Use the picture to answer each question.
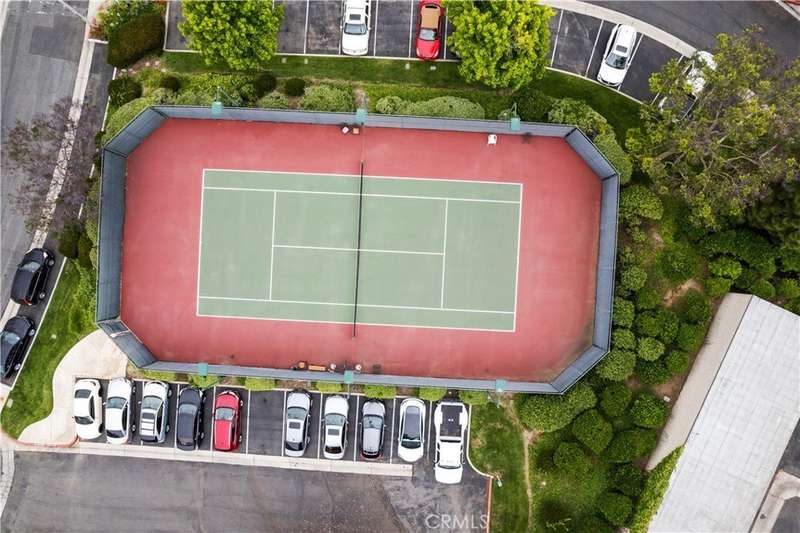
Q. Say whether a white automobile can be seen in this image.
Yes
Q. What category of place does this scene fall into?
sports ground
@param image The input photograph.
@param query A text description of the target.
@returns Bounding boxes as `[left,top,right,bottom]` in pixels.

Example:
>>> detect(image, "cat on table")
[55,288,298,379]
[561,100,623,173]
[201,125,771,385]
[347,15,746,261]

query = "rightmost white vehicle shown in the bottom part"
[436,402,467,486]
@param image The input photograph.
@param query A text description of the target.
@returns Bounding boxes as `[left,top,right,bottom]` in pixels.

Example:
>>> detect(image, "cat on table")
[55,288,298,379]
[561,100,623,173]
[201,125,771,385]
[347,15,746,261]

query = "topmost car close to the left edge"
[6,245,58,310]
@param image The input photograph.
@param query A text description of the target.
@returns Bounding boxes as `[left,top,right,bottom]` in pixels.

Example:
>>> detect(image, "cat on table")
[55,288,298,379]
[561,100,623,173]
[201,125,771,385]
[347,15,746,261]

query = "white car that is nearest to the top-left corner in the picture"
[340,0,370,56]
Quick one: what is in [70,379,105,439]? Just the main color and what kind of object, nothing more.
white car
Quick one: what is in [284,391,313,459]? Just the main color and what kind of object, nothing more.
white car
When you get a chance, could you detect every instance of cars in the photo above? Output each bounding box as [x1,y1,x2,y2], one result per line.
[137,380,171,445]
[416,0,443,59]
[598,20,644,89]
[173,387,206,453]
[102,377,136,445]
[0,314,35,382]
[70,379,105,439]
[398,398,426,463]
[322,394,350,461]
[212,390,243,453]
[340,0,370,56]
[284,391,313,459]
[361,399,388,461]
[6,245,58,310]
